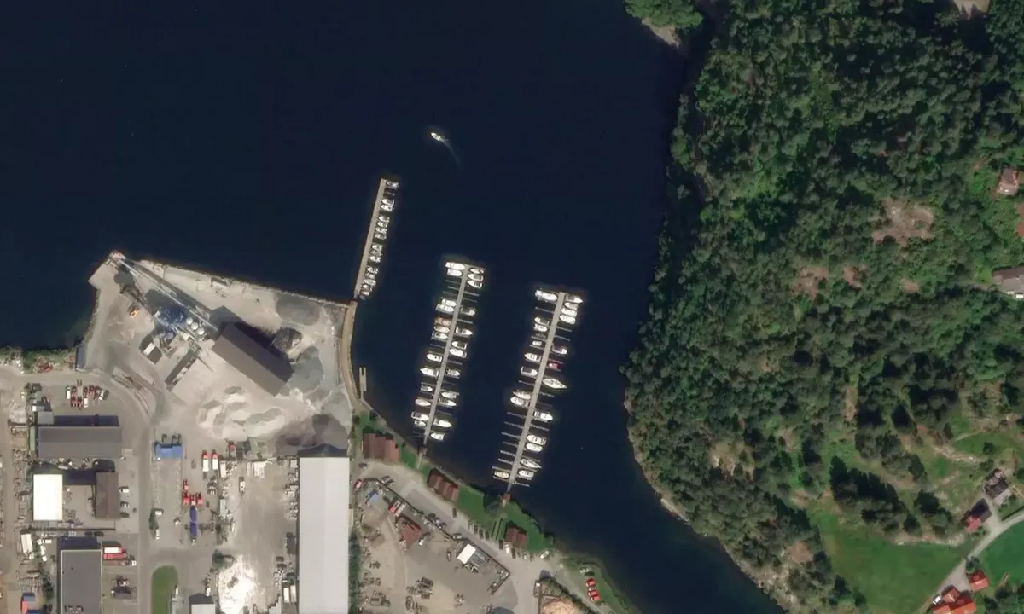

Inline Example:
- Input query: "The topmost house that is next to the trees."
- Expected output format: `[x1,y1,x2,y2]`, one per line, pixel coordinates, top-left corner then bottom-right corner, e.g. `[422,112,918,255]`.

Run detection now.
[997,165,1022,188]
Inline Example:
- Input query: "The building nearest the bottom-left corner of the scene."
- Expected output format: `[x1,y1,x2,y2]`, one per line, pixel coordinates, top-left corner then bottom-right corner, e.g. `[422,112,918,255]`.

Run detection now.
[61,549,103,614]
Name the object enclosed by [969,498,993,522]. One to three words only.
building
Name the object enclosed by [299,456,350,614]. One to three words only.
building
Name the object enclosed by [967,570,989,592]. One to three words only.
house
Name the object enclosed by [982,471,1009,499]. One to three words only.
house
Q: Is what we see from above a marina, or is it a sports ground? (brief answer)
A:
marina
